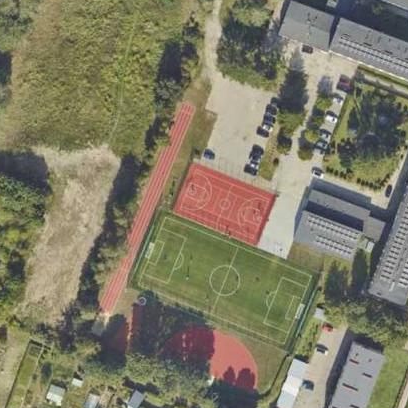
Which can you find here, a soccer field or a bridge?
soccer field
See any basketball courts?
Yes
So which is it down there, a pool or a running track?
running track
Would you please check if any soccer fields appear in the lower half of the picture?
Yes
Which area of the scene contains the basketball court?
center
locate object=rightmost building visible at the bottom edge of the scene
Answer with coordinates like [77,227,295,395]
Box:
[328,341,385,408]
